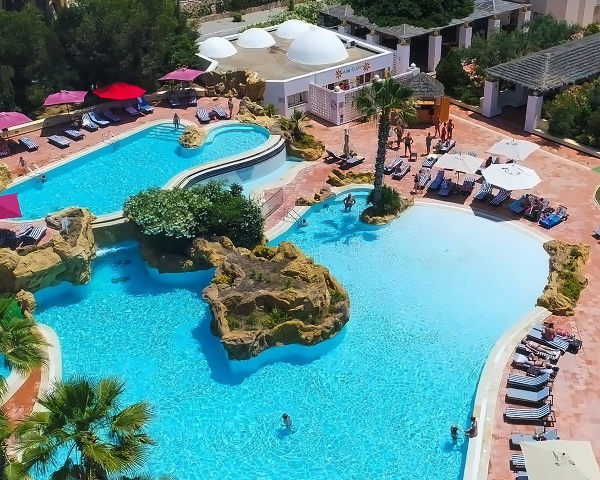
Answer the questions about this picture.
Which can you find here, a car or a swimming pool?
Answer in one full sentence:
It is a swimming pool that can be seen here.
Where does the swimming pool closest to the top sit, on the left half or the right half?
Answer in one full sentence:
The swimming pool closest to the top sits on the left side.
